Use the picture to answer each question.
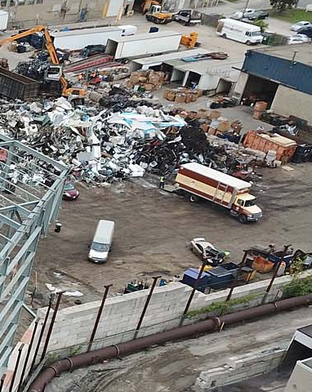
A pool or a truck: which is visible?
truck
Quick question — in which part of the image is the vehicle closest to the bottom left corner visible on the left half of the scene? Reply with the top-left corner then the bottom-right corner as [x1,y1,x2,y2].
[88,221,114,259]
